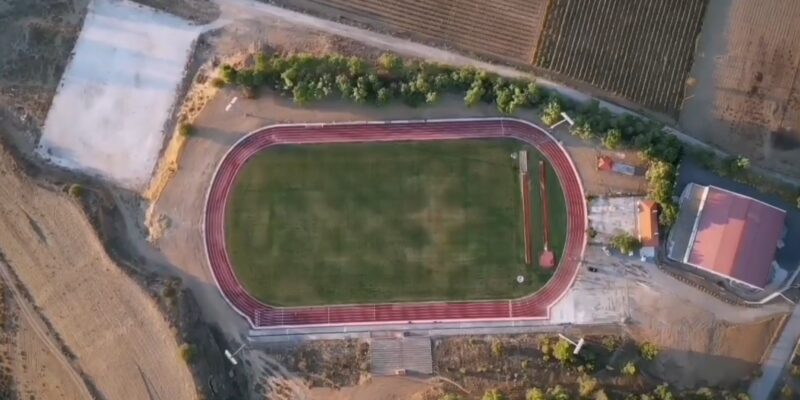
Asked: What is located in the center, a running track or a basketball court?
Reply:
running track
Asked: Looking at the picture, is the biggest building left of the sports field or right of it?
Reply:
right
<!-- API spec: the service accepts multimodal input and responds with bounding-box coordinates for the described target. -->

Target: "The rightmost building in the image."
[657,180,788,289]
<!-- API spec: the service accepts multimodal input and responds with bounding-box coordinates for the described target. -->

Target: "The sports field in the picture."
[226,137,568,308]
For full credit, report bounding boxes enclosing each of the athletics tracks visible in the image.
[205,116,588,330]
